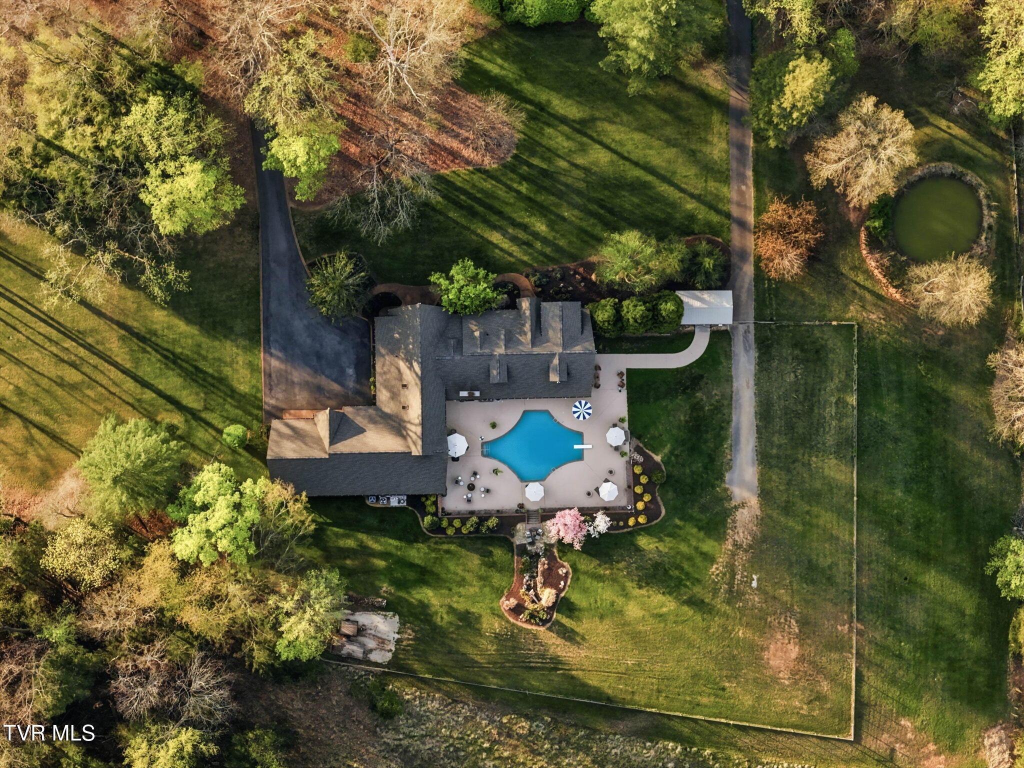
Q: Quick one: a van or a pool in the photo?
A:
pool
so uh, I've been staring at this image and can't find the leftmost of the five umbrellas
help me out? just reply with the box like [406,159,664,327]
[448,432,469,456]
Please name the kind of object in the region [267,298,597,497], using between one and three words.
house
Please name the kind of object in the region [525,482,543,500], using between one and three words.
umbrella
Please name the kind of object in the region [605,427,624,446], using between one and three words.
umbrella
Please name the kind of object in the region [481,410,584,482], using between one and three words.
swimming pool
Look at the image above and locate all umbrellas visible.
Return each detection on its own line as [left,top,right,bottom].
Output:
[448,432,469,456]
[605,427,624,446]
[571,400,591,420]
[525,482,543,500]
[598,481,617,500]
